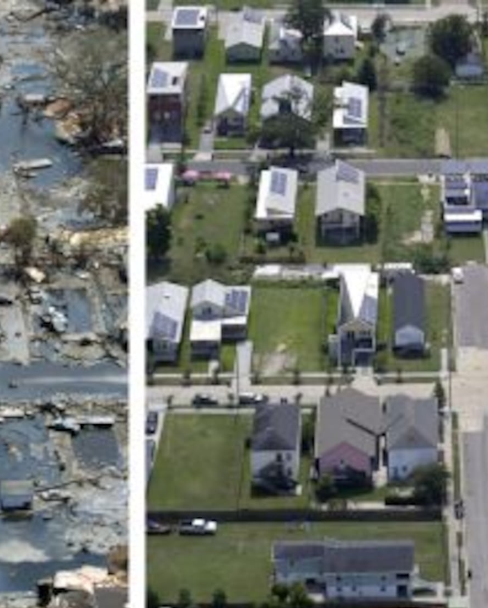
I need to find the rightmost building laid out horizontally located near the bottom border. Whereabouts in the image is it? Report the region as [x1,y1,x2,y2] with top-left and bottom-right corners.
[277,535,414,596]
